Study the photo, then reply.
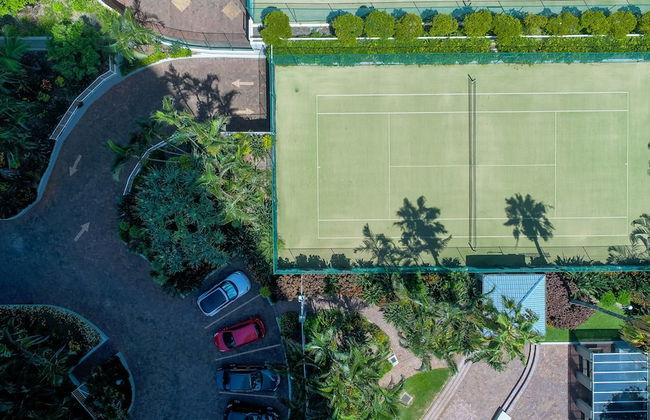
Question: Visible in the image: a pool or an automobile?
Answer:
automobile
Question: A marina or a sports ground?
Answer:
sports ground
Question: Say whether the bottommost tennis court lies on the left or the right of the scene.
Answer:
right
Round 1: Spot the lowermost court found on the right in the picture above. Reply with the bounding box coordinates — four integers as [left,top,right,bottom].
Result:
[274,65,650,267]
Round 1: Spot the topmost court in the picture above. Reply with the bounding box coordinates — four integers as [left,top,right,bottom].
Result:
[253,0,650,22]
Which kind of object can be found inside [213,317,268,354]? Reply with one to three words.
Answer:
car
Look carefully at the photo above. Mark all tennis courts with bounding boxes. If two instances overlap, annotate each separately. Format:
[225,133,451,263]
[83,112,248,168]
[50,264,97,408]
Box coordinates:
[274,65,650,267]
[253,0,650,22]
